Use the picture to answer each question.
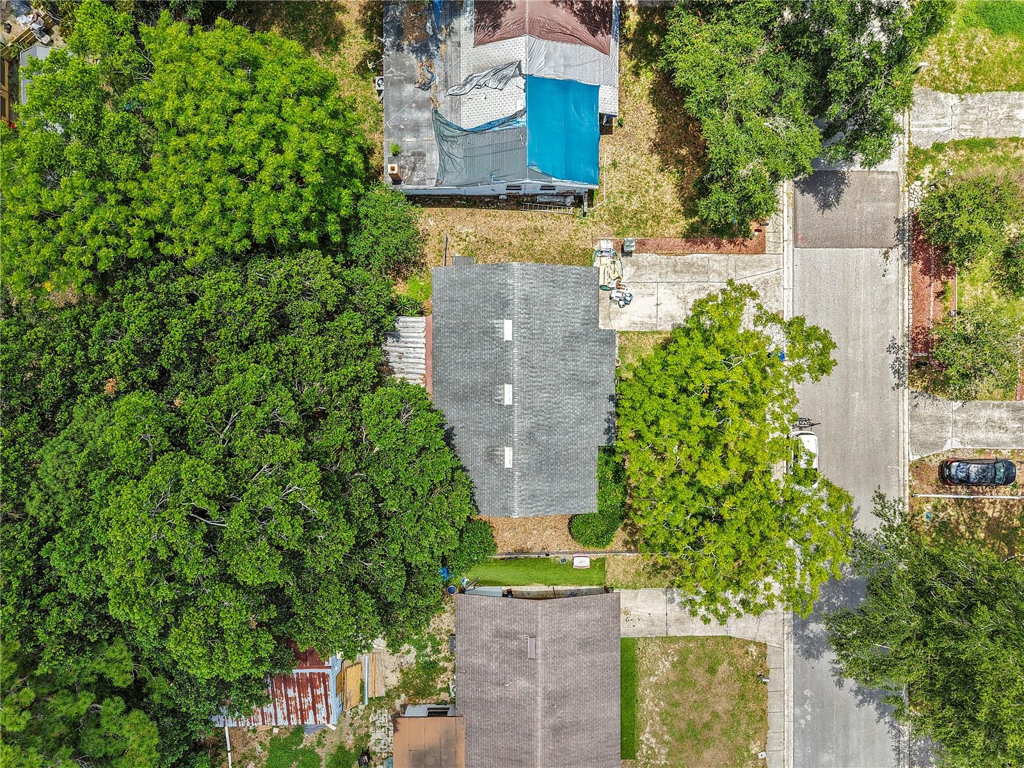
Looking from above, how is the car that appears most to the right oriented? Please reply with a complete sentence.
Seen from above, the car that appears most to the right lies horizontally.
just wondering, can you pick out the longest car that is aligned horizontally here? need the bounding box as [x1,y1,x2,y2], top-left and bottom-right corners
[938,454,1016,489]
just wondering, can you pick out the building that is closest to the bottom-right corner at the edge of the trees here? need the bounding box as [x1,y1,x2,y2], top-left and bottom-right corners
[455,590,622,768]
